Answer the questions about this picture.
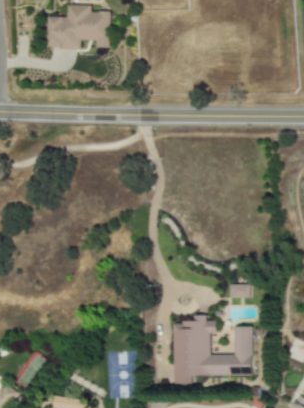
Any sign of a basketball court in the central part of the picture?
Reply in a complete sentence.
No, no basketball court is visible in the central part of the picture.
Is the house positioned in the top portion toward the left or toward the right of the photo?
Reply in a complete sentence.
The house positioned in the top portion sits on the left side.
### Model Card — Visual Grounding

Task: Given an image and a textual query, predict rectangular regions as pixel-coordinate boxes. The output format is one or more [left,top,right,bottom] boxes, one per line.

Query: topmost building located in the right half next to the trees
[230,284,254,298]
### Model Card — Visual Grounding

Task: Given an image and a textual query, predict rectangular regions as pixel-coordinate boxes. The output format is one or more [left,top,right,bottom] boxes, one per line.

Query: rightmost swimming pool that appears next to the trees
[228,306,258,323]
